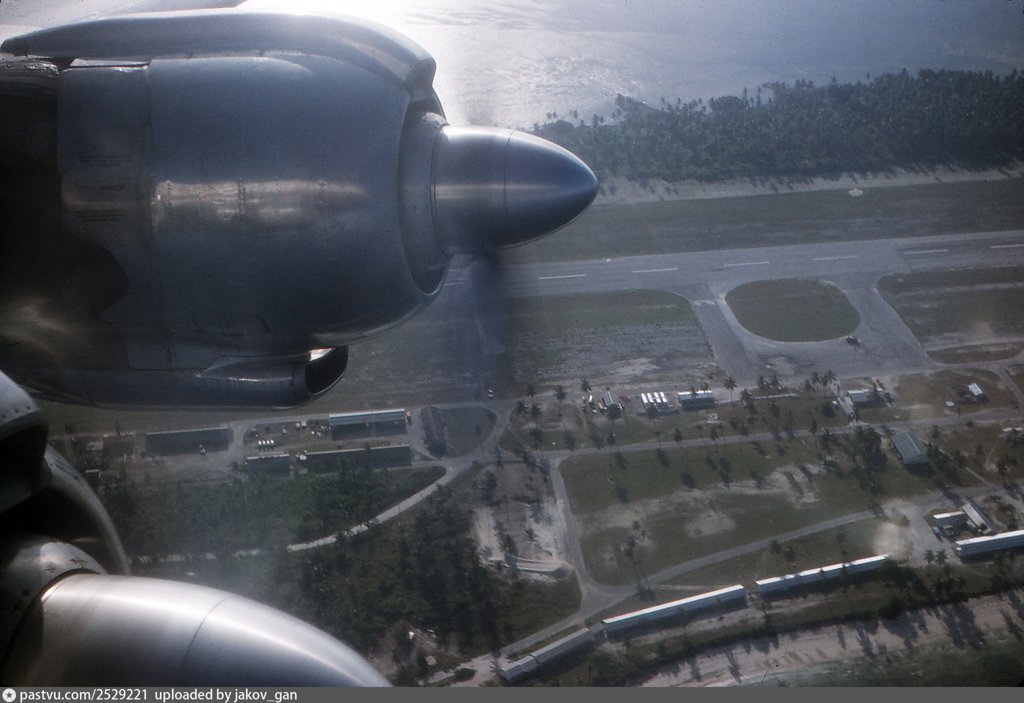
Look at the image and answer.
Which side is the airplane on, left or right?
left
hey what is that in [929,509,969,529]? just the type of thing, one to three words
building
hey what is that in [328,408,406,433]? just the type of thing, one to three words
hangar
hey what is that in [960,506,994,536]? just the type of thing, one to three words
shed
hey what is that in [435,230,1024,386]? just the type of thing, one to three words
airport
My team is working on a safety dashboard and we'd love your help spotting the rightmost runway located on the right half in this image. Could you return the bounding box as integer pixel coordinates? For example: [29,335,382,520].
[890,230,1024,270]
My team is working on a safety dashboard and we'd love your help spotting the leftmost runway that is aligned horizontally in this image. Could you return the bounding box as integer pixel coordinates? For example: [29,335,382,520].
[435,239,918,302]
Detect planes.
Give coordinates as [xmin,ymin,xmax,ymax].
[0,0,599,703]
